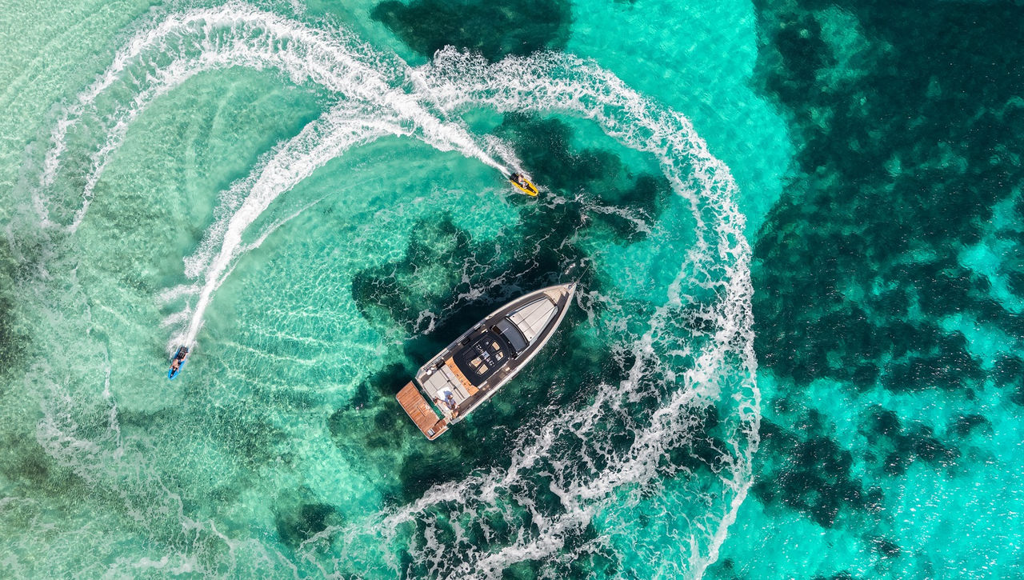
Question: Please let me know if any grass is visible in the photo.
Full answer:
No, there's no grass in this view.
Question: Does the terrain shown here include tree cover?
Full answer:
No, the picture contains no tree cover.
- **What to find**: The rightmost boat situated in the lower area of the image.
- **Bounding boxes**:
[398,267,586,437]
